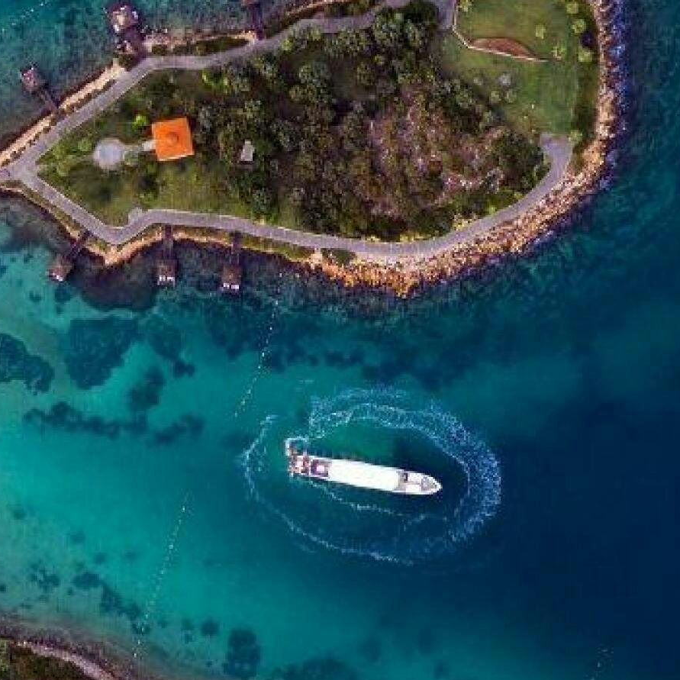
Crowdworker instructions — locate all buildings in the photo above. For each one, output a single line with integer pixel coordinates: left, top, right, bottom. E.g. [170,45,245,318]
[149,117,194,163]
[240,143,252,163]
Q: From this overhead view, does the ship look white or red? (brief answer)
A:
white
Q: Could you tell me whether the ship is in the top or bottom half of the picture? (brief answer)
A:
bottom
